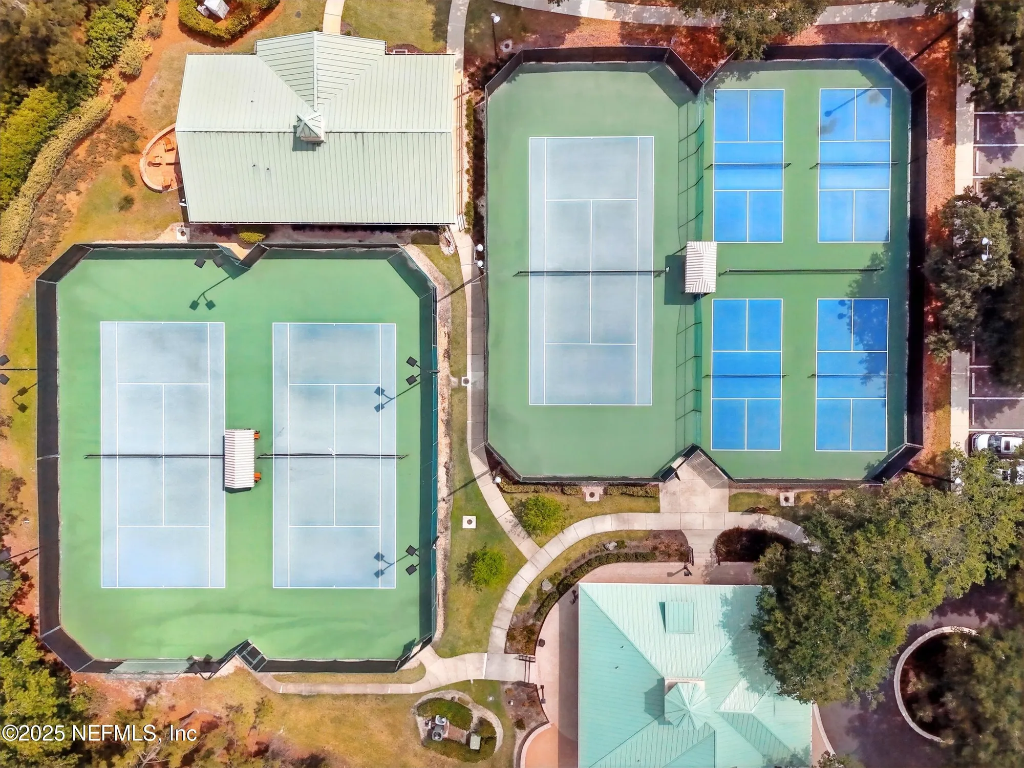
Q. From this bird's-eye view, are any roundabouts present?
Yes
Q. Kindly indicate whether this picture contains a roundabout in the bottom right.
Yes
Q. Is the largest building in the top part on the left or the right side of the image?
left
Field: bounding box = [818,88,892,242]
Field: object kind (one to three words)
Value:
sports court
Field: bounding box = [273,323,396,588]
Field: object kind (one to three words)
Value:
tennis court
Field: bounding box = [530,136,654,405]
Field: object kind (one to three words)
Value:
tennis court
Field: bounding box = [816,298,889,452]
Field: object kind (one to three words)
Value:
sports court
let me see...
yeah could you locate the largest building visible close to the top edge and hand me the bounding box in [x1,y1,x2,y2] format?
[175,31,456,227]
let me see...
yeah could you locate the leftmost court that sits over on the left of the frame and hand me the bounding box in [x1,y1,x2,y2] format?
[101,322,225,588]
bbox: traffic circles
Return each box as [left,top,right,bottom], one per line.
[893,625,1011,742]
